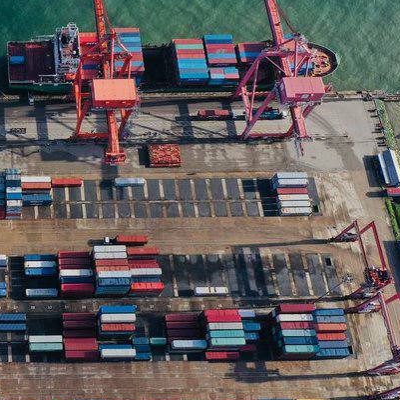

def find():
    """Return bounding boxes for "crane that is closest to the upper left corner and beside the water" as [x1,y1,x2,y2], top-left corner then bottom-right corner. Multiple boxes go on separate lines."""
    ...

[68,0,151,161]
